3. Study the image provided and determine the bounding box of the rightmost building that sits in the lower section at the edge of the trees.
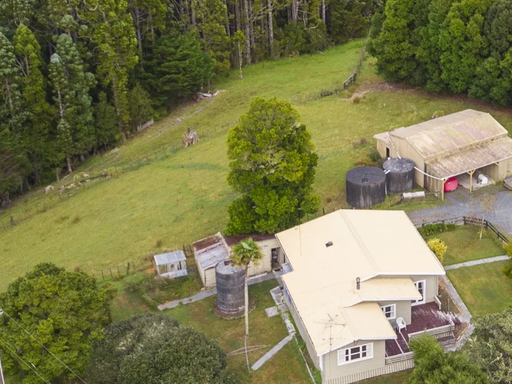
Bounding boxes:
[276,208,458,384]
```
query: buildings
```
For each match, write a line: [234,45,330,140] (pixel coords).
[276,208,458,384]
[368,109,512,201]
[189,229,231,289]
[153,252,189,284]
